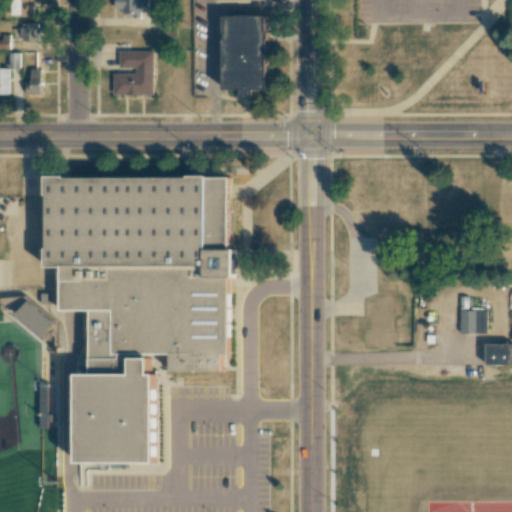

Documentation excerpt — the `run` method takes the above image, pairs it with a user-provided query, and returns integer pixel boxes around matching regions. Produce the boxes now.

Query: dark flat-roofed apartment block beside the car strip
[220,16,269,97]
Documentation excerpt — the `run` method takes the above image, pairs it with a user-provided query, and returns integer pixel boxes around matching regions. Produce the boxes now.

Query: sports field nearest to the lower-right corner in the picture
[361,397,512,512]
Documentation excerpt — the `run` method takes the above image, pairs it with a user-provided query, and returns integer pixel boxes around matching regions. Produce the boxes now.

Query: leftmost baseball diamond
[0,314,63,512]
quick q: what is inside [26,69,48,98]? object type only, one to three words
house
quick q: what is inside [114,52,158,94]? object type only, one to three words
house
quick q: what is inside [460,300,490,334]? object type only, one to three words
barn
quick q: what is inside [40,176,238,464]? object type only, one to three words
building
